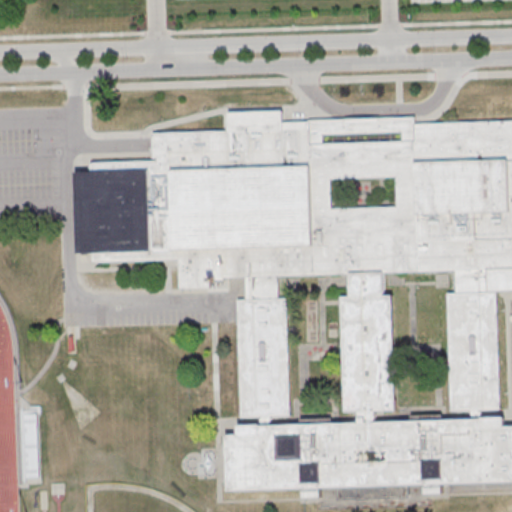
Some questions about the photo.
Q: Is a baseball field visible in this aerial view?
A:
No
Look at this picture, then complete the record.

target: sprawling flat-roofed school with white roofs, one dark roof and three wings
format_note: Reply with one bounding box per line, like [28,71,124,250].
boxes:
[74,110,512,498]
